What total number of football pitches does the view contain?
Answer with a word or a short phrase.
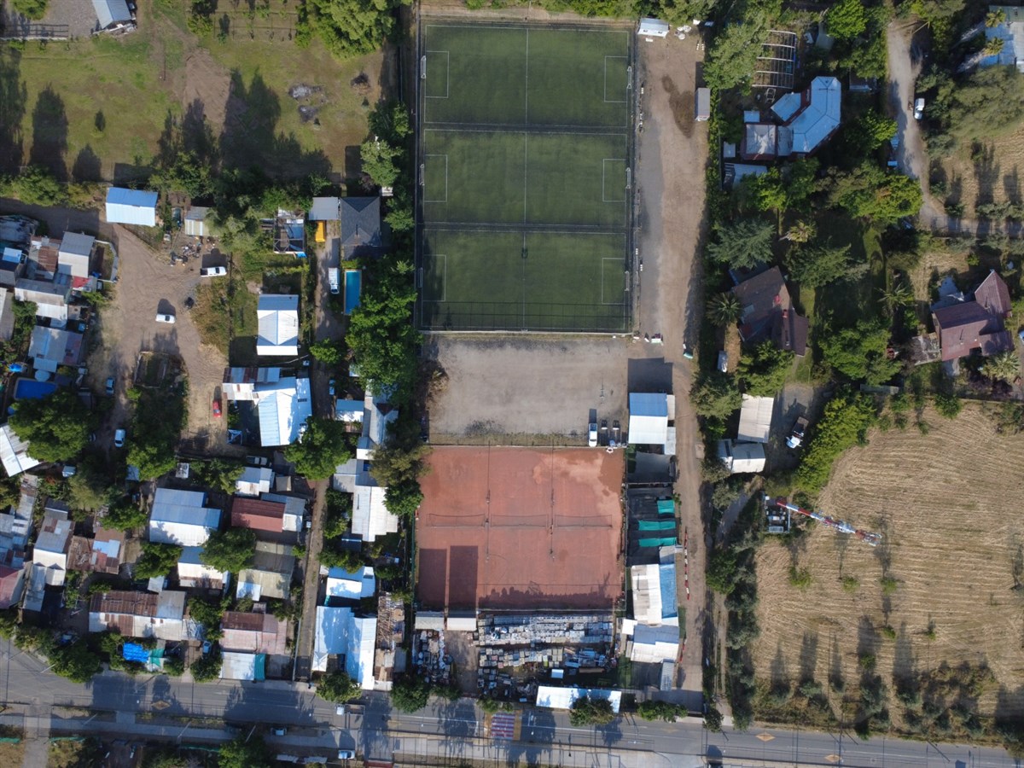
3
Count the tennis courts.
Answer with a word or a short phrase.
1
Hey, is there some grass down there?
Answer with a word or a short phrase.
Yes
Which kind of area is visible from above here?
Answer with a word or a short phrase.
residential area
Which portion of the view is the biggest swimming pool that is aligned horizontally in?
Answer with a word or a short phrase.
left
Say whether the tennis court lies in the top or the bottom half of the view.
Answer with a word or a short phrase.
bottom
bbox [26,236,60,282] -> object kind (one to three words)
house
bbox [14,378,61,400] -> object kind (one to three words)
swimming pool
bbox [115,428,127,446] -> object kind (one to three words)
vehicle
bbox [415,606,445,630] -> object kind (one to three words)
building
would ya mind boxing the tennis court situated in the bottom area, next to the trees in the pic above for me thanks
[414,446,626,610]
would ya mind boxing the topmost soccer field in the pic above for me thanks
[418,22,634,131]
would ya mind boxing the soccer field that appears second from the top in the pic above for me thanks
[417,124,633,227]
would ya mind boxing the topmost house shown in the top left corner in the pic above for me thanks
[92,0,137,31]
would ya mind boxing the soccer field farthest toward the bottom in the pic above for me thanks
[416,224,632,331]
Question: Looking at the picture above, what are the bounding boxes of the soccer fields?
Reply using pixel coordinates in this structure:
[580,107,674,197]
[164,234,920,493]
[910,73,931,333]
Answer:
[417,124,633,227]
[418,22,634,131]
[416,224,632,331]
